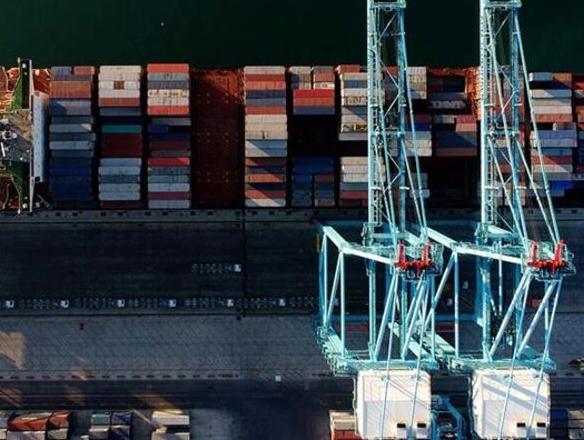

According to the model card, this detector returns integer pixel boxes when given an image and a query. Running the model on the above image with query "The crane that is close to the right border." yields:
[394,0,574,440]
